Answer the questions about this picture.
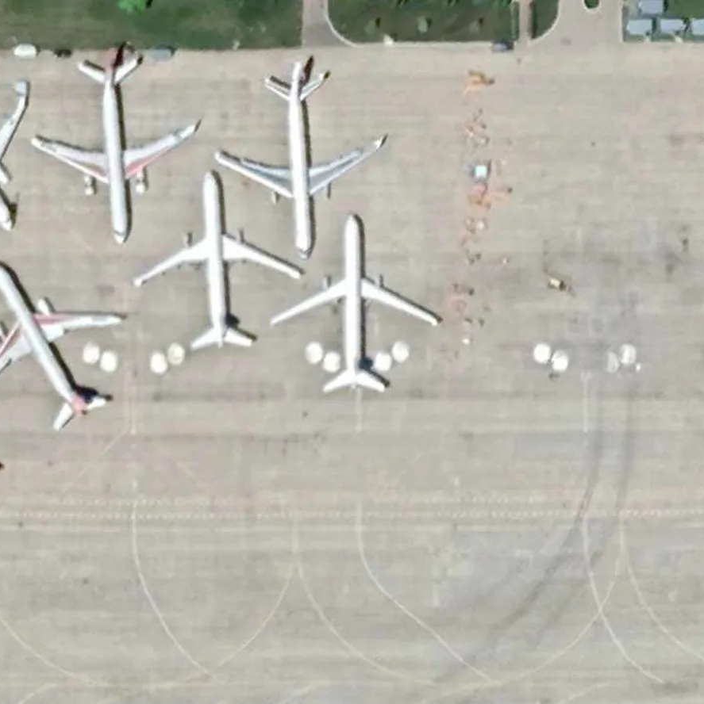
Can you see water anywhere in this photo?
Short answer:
No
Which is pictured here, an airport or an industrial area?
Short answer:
airport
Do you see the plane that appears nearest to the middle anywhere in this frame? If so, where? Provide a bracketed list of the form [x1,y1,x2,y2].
[271,214,439,390]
